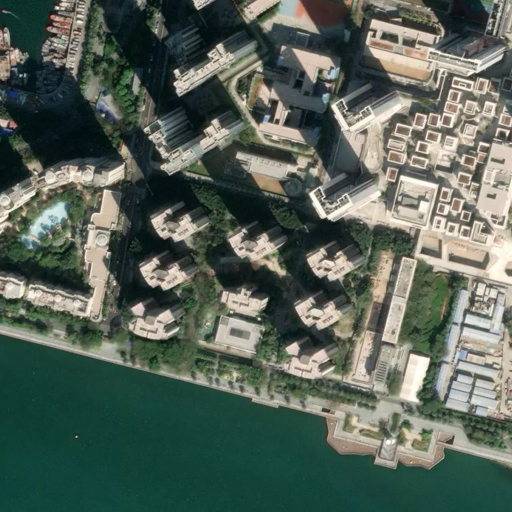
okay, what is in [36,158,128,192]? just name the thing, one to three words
building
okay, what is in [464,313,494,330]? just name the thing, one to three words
shed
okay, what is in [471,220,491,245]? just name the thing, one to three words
house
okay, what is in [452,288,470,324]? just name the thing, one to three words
shed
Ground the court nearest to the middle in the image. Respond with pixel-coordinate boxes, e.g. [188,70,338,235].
[244,171,286,192]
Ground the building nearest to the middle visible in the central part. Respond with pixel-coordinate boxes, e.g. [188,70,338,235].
[228,221,286,261]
